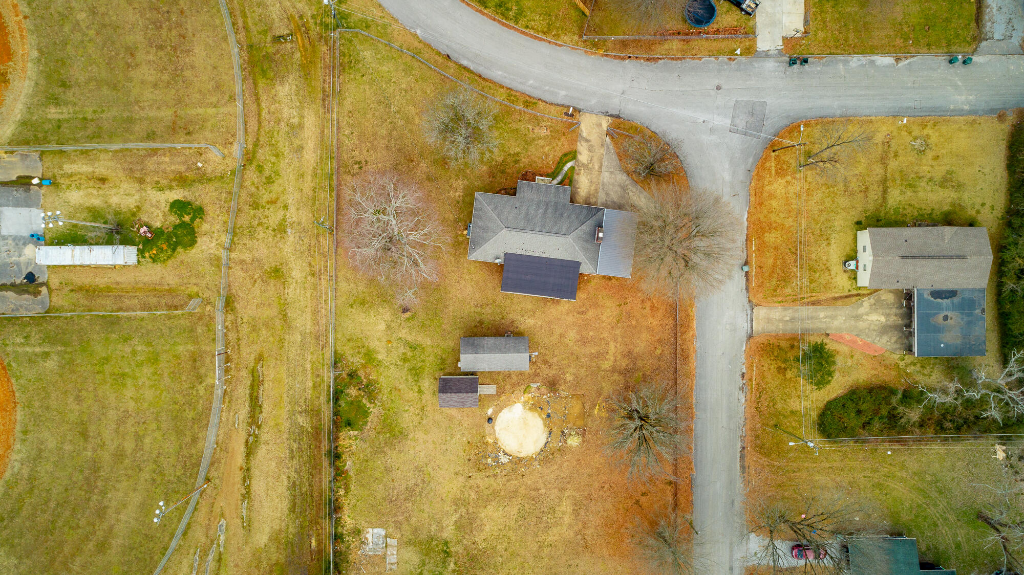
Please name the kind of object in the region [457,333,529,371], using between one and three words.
shed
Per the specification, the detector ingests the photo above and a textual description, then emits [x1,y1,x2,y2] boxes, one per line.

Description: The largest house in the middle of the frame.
[467,175,638,302]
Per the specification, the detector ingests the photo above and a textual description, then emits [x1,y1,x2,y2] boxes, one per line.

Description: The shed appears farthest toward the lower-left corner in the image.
[439,375,479,408]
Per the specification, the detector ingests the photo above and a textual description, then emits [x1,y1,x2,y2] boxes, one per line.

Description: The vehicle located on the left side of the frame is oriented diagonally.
[132,221,154,241]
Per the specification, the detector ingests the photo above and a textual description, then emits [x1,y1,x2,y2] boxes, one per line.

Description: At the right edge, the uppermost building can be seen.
[857,223,993,289]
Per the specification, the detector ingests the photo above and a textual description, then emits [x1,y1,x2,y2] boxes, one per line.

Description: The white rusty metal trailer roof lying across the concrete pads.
[35,245,146,265]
